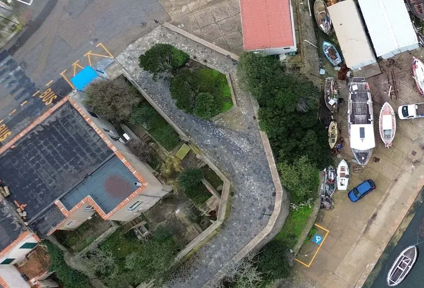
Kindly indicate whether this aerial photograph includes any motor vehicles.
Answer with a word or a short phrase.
Yes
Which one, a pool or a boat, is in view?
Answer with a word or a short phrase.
boat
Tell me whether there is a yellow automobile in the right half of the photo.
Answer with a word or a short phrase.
No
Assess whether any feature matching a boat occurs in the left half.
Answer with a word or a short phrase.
No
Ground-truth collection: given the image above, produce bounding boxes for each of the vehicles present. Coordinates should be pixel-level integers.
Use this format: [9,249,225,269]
[398,102,424,122]
[347,178,378,204]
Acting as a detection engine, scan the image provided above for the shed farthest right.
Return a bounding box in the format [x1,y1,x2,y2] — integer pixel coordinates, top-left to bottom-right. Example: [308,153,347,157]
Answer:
[359,0,423,61]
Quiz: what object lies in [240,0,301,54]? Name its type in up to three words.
shed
